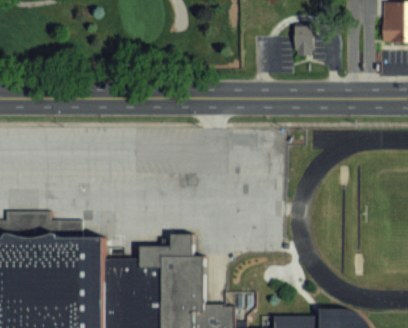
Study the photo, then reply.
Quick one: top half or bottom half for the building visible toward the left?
bottom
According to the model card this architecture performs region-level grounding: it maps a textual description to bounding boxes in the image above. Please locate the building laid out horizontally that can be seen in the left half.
[0,210,258,328]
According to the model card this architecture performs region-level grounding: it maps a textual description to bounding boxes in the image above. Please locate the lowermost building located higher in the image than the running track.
[295,26,314,57]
